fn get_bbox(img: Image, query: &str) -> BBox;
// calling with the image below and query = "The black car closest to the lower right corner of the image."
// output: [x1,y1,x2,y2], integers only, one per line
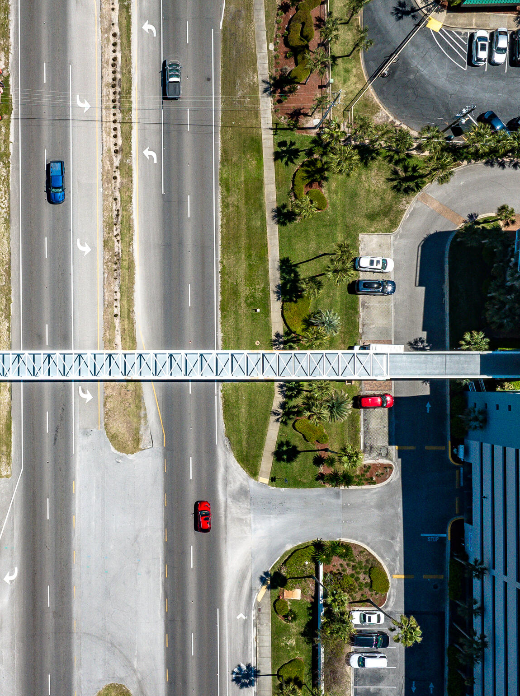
[352,631,389,650]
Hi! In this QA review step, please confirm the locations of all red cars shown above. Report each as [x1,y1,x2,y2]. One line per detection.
[358,393,393,410]
[194,500,212,532]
